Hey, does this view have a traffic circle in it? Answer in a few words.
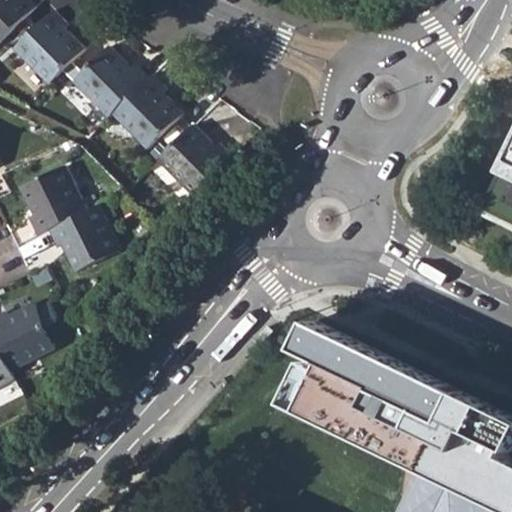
Yes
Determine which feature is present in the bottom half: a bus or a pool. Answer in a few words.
bus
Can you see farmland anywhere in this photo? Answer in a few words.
No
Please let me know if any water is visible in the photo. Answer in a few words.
No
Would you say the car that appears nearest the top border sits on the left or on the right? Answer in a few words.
right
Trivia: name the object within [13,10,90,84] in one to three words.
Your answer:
house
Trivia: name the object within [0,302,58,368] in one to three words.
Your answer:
house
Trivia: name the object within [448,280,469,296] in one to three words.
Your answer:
car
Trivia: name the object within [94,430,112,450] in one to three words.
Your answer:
car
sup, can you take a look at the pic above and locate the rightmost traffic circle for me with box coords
[338,48,431,146]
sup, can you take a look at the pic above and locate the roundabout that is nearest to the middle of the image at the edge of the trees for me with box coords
[284,173,373,265]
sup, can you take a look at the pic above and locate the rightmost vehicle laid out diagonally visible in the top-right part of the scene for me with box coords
[451,6,472,26]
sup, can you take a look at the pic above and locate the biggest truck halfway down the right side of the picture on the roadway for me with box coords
[415,258,450,285]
